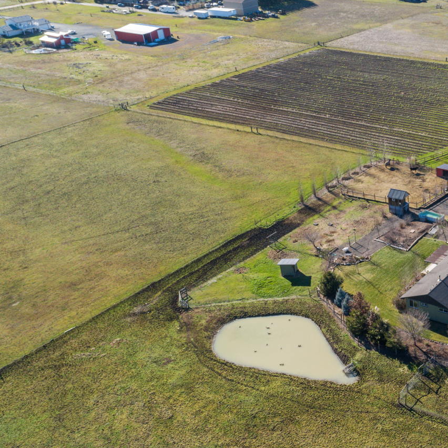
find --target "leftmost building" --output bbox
[5,17,41,42]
